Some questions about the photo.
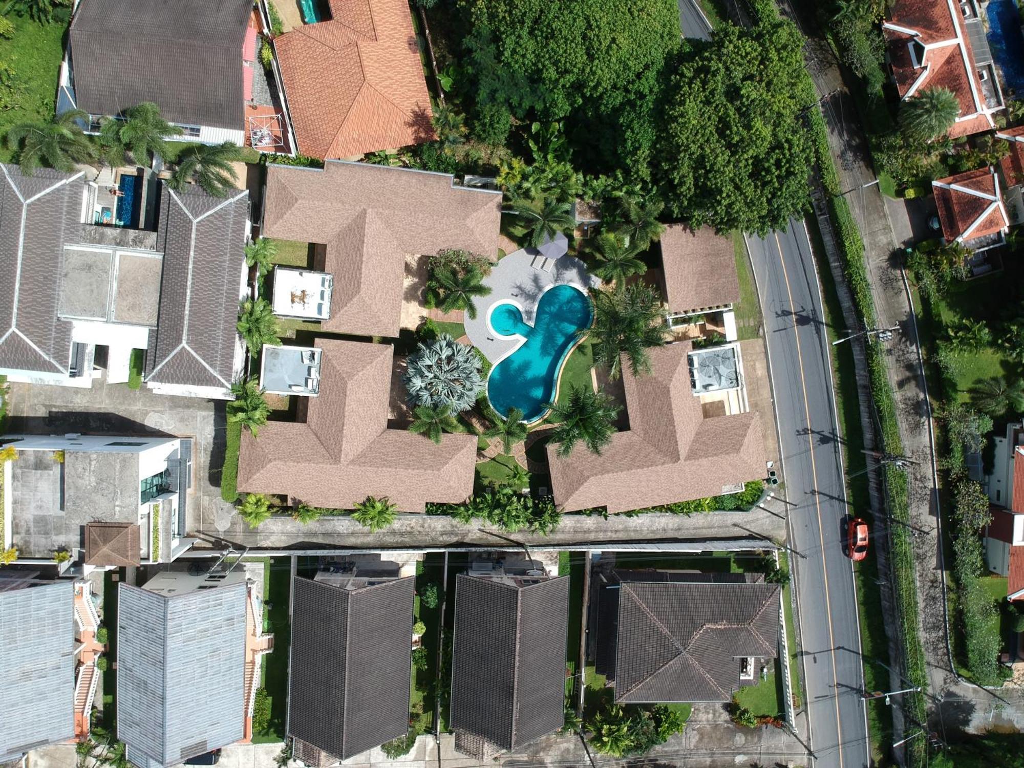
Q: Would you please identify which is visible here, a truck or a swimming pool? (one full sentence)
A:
The one in the frame is a swimming pool.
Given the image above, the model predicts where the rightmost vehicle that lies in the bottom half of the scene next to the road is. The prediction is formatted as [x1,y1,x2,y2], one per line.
[846,516,873,562]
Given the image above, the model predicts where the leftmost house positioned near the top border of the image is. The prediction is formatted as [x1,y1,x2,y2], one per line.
[57,0,256,149]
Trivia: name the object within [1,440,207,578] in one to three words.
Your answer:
house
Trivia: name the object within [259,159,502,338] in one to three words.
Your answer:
house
